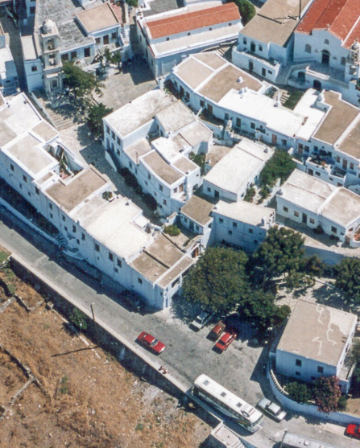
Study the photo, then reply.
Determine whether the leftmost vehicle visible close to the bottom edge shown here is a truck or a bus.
bus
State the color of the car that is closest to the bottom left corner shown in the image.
red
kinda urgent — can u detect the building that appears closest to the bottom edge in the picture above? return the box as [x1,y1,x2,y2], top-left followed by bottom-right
[212,421,240,447]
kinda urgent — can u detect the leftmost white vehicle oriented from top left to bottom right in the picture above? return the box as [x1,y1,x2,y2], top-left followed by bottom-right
[192,373,268,435]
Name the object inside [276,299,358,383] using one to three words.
house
